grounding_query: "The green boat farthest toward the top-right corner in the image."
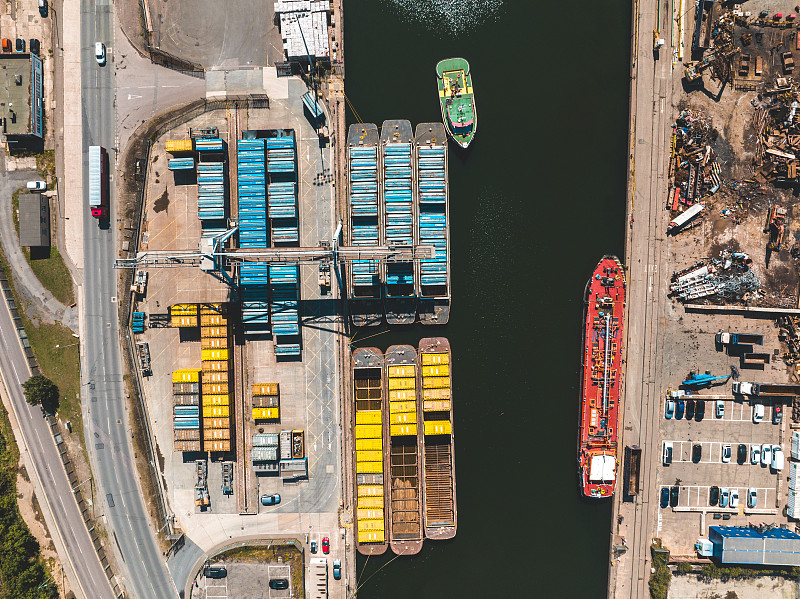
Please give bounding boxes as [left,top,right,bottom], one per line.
[434,56,478,151]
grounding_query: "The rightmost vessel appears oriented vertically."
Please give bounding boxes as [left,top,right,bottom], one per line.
[576,256,625,498]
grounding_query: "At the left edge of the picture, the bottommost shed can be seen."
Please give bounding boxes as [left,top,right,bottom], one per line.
[20,194,49,248]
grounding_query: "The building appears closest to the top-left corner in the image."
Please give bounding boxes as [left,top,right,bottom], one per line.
[0,53,43,138]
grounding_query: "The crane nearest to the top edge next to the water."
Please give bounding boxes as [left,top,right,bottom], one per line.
[115,219,437,296]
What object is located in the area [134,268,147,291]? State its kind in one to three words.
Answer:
vehicle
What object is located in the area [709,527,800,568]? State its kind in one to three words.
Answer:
building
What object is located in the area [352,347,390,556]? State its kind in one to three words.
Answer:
ship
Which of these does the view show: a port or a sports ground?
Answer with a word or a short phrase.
port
